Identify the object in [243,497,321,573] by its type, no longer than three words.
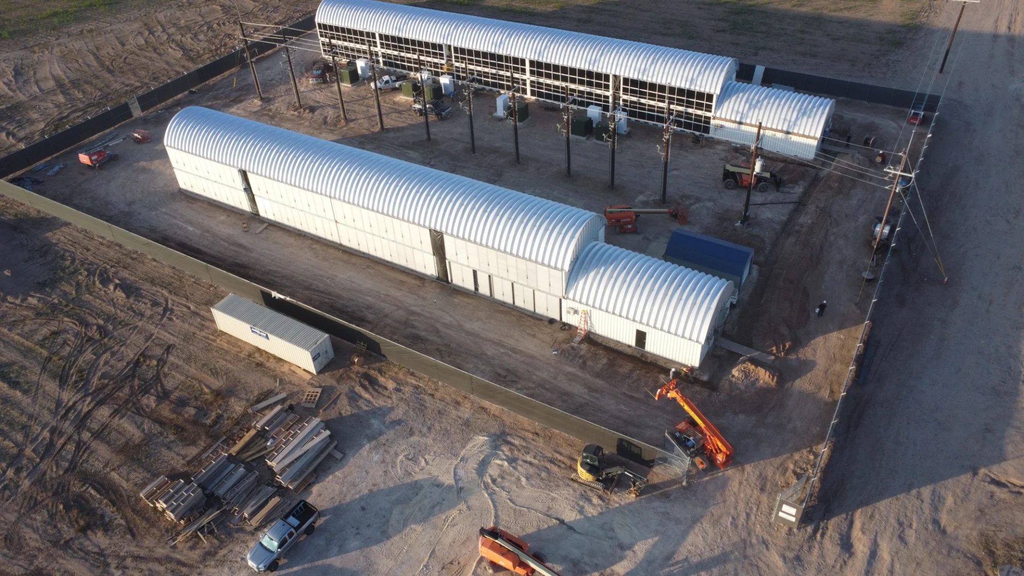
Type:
truck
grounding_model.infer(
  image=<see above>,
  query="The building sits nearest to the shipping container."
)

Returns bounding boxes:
[161,104,610,325]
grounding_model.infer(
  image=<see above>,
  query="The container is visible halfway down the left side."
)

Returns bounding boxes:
[211,293,337,374]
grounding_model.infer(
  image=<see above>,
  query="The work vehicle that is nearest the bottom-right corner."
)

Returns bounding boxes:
[655,375,738,472]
